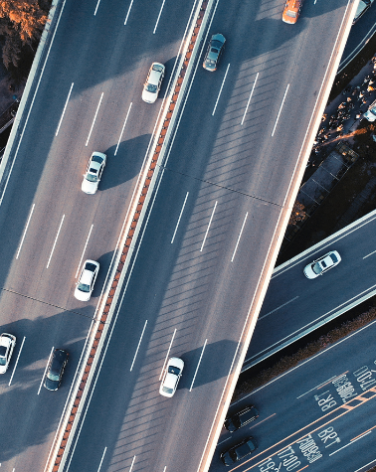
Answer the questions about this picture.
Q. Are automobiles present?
Yes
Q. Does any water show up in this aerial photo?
No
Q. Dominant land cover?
paved ground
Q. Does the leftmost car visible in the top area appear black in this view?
No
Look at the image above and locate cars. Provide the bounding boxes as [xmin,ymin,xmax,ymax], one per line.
[360,96,376,125]
[351,0,376,30]
[0,331,17,374]
[278,0,305,31]
[74,259,99,301]
[200,30,227,76]
[224,403,262,433]
[302,249,342,279]
[140,60,167,106]
[80,149,107,195]
[159,357,184,400]
[42,346,67,389]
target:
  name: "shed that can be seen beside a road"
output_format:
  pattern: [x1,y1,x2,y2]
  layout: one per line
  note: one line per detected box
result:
[295,148,356,218]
